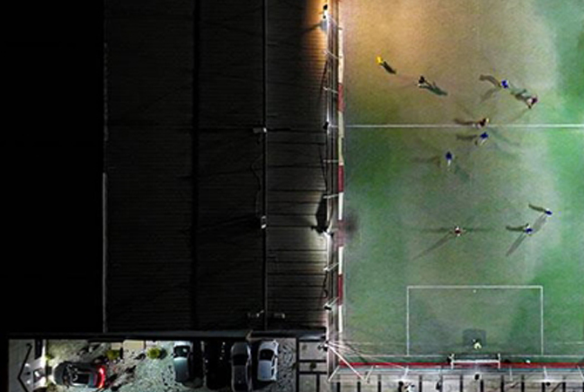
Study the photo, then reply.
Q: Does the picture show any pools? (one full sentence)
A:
No, I can see no pool in this picture.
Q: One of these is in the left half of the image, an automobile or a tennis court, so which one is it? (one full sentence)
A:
Looking in the left half of the image, you will find an automobile.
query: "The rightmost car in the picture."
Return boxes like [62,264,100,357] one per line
[253,341,277,385]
